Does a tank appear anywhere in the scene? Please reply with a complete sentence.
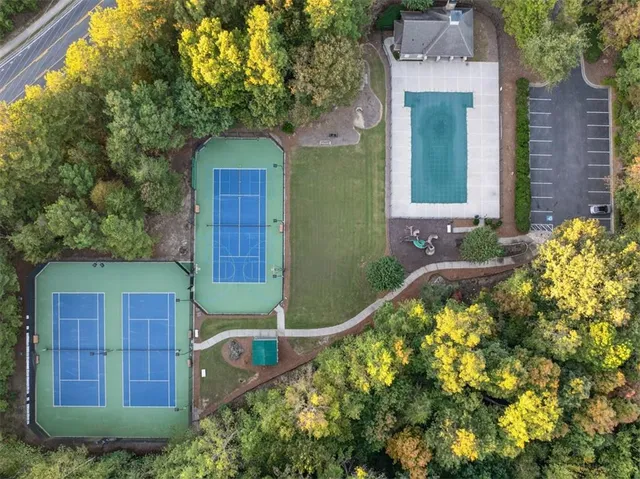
No, I can see no tank in this picture.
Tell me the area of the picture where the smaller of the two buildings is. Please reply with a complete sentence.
The smaller of the two buildings appears toward the bottom of the photo.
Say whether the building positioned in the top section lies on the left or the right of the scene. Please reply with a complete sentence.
The building positioned in the top section appears in the right half of the scene.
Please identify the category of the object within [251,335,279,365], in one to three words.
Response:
building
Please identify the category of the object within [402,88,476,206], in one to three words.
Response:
swimming pool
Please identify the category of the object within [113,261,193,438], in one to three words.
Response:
tennis court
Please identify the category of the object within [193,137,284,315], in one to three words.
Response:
tennis court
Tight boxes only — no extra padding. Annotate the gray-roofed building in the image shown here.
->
[394,0,473,63]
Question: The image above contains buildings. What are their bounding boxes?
[251,335,279,365]
[394,0,473,63]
